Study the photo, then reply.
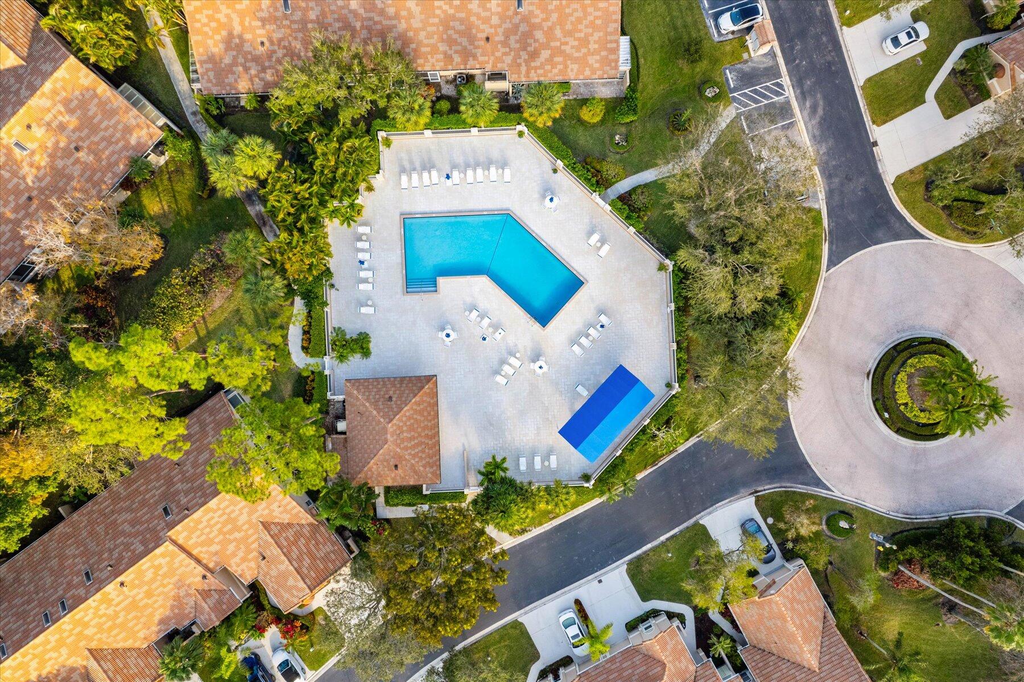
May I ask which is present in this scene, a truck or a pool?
pool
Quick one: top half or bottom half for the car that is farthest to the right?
top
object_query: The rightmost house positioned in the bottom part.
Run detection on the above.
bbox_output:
[726,554,880,682]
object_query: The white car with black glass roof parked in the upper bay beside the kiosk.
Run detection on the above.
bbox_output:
[716,0,765,34]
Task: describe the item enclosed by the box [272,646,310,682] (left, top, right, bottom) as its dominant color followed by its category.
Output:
white car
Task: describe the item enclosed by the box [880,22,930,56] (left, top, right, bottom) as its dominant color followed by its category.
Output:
white car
